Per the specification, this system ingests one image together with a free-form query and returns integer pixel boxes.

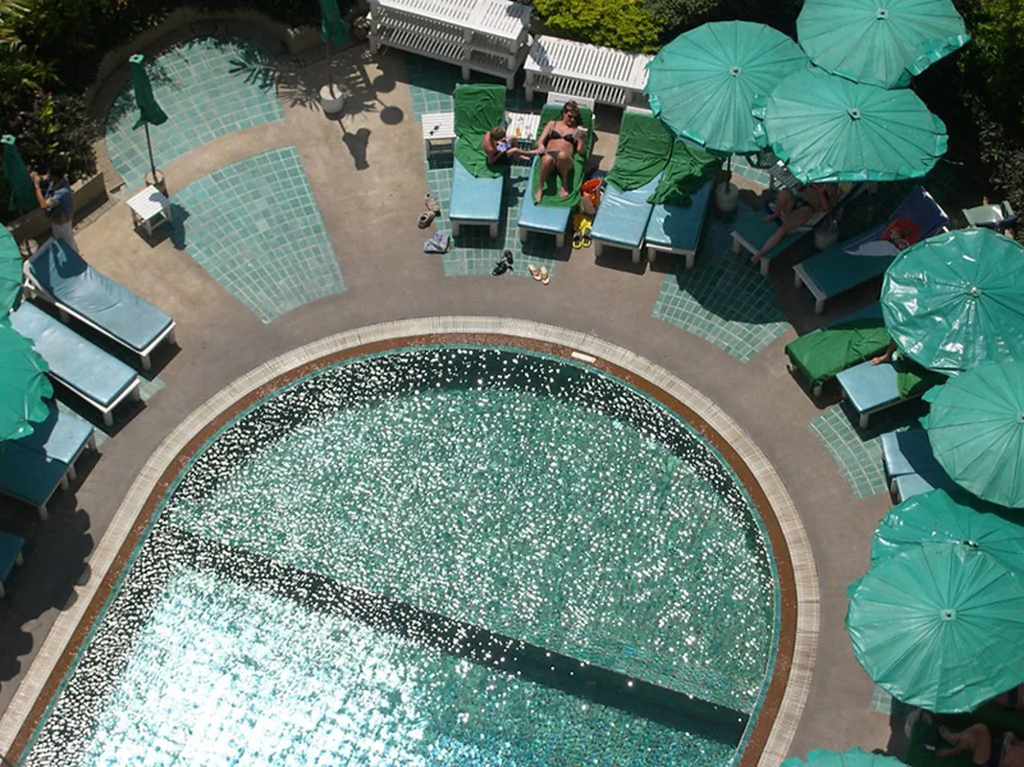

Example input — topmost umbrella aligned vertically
[315,0,346,110]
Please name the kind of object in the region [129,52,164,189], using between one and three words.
umbrella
